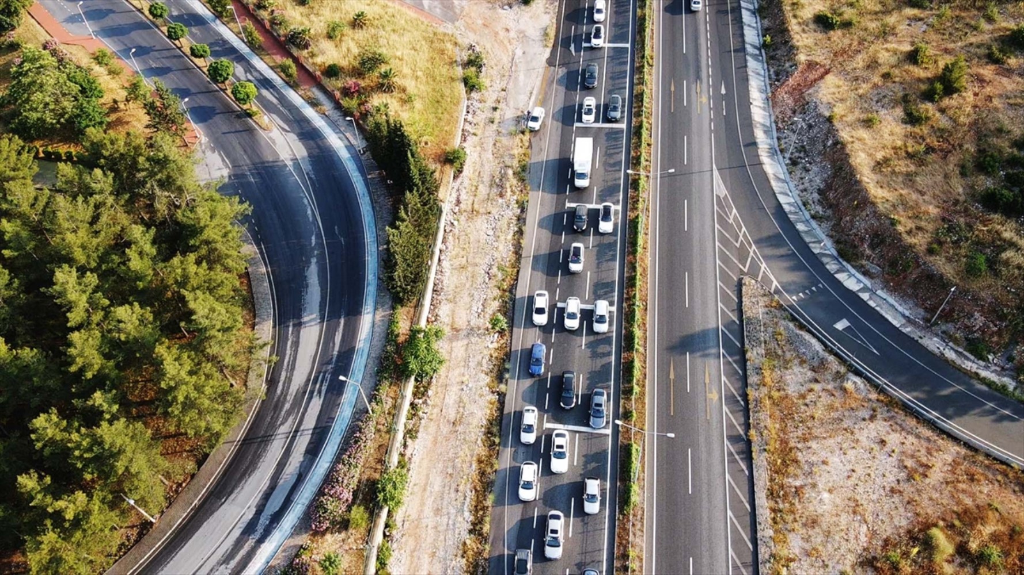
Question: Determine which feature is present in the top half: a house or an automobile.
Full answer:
There is an automobile in the top half.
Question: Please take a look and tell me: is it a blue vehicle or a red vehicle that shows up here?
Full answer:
Visible in the photo is a blue vehicle.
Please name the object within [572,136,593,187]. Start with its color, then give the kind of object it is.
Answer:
white truck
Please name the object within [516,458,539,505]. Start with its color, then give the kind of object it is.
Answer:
white car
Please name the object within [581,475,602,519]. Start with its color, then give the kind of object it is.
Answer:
white car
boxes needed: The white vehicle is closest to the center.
[530,291,550,327]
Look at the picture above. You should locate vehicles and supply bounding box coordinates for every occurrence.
[580,97,596,124]
[690,0,702,10]
[558,370,578,412]
[567,242,586,275]
[571,202,589,234]
[549,431,570,476]
[583,64,599,88]
[518,404,539,448]
[530,291,550,327]
[581,475,602,519]
[607,95,623,121]
[511,547,533,575]
[588,389,609,431]
[543,511,565,562]
[592,0,606,21]
[591,300,610,334]
[527,341,548,380]
[572,136,593,187]
[590,24,605,47]
[597,203,615,235]
[516,458,539,505]
[525,107,546,131]
[562,297,581,331]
